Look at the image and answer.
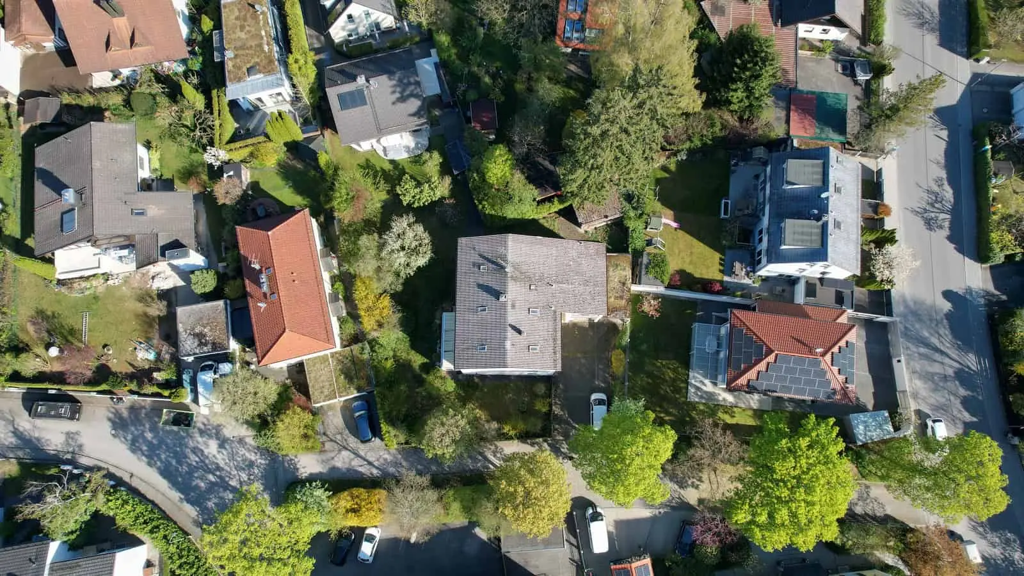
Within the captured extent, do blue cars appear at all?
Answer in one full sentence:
Yes, the picture does show a blue car.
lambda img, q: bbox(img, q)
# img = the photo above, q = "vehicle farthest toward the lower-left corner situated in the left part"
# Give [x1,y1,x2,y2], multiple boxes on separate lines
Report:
[28,401,81,420]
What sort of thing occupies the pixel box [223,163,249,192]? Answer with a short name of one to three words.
shed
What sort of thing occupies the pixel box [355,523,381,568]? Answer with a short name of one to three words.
car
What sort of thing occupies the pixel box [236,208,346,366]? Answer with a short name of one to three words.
house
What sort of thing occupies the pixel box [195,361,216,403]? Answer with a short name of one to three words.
car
